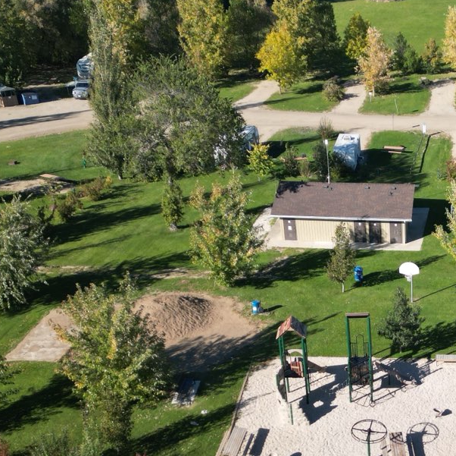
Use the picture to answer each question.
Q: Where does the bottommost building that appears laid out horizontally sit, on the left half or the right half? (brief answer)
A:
right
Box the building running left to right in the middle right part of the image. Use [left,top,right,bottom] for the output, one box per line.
[270,179,422,243]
